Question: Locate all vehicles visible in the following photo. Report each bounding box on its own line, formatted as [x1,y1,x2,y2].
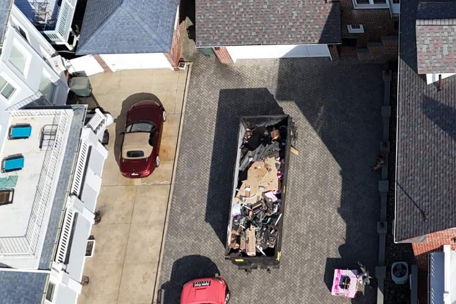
[116,95,168,182]
[186,278,237,304]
